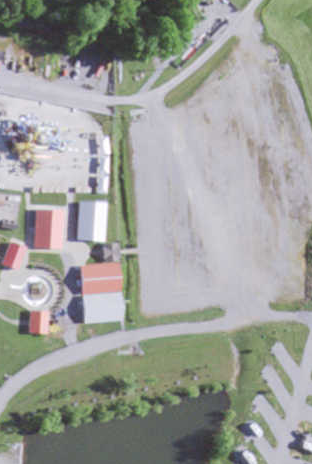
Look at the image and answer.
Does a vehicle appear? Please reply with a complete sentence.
Yes, you can see a vehicle in this photo.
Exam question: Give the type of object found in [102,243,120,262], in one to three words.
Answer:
building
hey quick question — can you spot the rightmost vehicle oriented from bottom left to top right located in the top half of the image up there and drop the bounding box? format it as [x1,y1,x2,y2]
[208,18,227,36]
